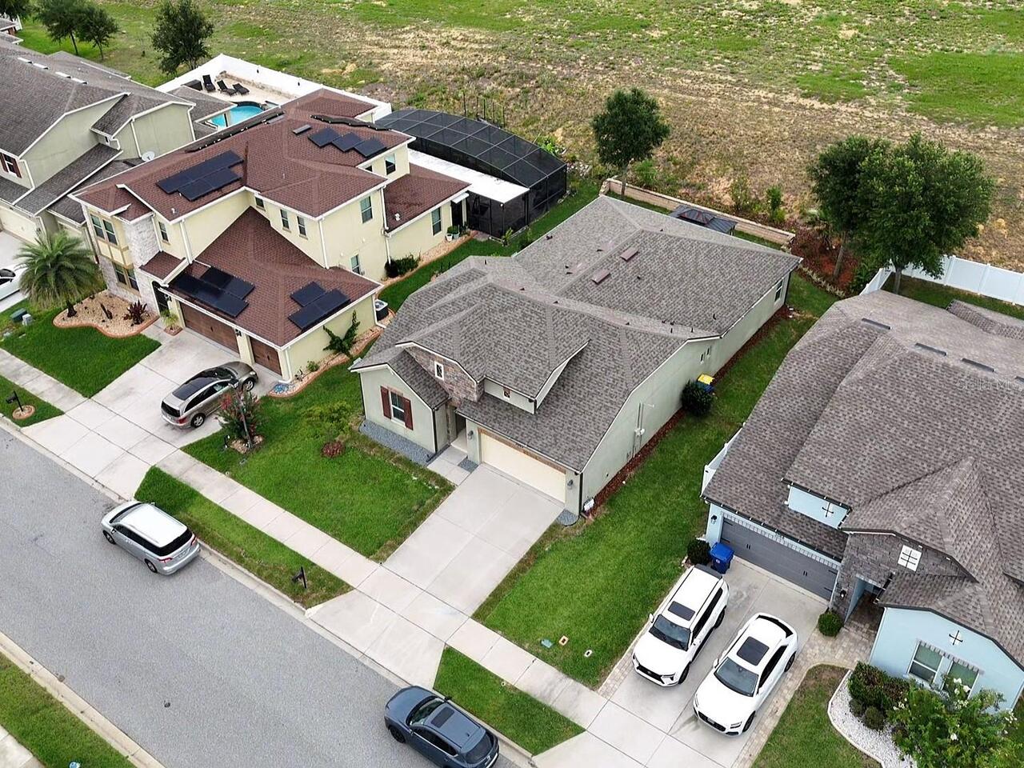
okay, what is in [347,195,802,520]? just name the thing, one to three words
house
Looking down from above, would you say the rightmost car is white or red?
white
